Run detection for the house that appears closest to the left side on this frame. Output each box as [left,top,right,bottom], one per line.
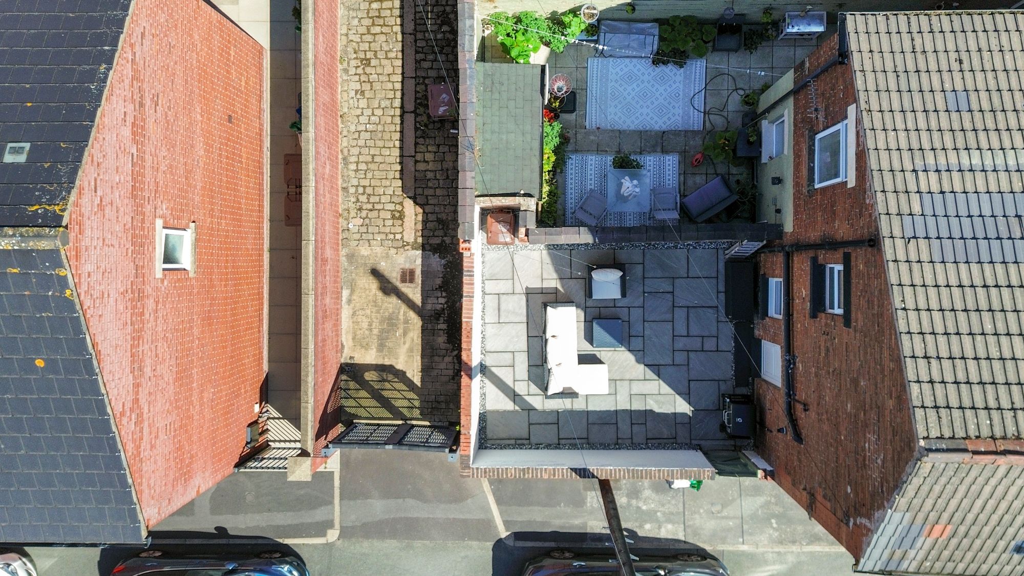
[0,0,269,549]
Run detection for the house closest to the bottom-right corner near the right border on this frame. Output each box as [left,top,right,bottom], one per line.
[737,0,1024,576]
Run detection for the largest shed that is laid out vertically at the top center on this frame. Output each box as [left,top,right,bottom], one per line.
[477,64,542,200]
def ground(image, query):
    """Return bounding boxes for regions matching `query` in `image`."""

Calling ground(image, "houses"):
[737,0,1024,576]
[0,0,269,549]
